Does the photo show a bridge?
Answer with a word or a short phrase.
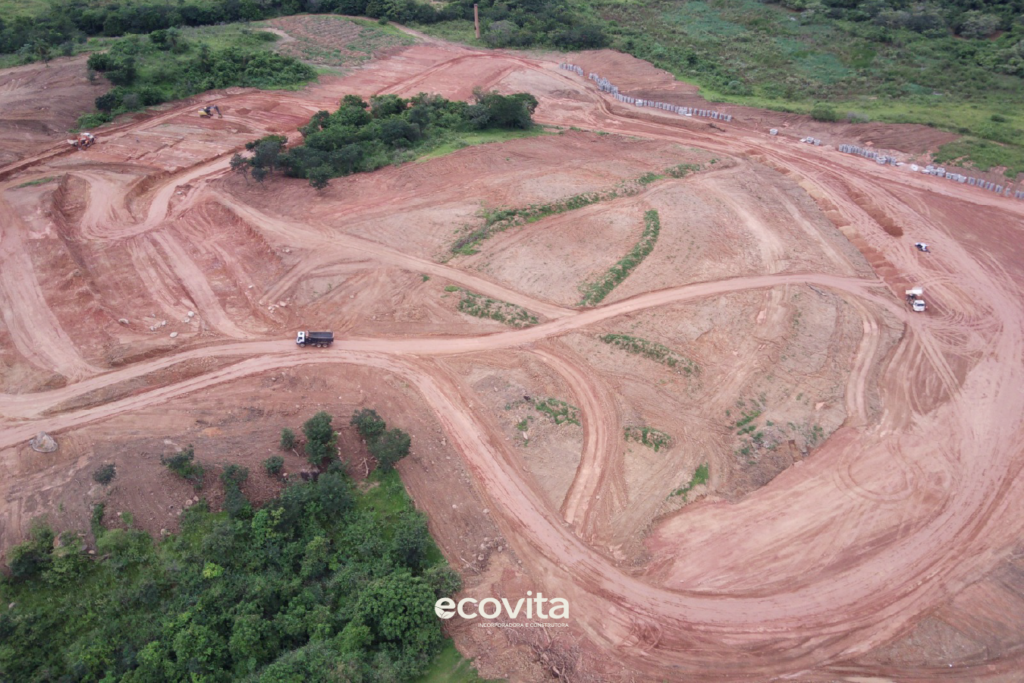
No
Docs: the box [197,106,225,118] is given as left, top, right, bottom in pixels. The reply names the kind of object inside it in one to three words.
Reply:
vehicle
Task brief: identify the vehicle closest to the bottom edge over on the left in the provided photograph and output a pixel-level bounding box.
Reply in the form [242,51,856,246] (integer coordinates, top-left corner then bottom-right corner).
[294,331,334,348]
